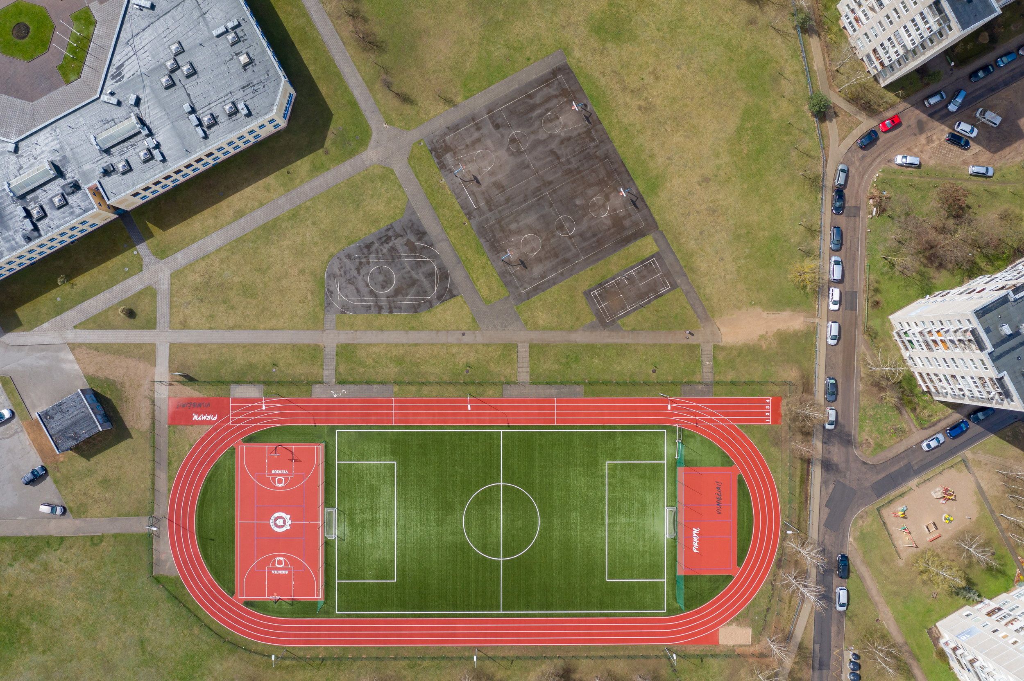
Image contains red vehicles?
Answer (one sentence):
Yes, a red vehicle can be made out from above.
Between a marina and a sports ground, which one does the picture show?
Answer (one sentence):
This looks like a sports ground.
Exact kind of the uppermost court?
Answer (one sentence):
Specifically, the uppermost court is a basketball court.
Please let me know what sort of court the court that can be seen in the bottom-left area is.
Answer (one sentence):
I'd identify the court that can be seen in the bottom-left area as a basketball court.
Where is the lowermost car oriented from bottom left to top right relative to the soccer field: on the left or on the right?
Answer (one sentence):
The lowermost car oriented from bottom left to top right is to the left of the soccer field.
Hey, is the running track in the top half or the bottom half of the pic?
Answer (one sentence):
The running track sits in the bottom half of the picture.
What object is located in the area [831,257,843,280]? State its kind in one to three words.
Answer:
vehicle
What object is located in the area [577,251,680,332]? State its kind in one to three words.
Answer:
sports court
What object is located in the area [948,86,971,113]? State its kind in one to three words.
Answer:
vehicle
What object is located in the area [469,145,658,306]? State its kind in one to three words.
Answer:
basketball court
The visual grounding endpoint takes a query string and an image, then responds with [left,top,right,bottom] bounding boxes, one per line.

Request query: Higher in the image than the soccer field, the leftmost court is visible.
[324,200,462,314]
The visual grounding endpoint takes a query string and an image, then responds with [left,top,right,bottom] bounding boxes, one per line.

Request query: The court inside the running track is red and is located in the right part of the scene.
[677,465,741,578]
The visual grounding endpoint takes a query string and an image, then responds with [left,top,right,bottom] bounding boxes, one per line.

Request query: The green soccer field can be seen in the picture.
[195,425,753,619]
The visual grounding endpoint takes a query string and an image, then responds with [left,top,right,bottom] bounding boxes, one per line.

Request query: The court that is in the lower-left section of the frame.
[232,441,324,605]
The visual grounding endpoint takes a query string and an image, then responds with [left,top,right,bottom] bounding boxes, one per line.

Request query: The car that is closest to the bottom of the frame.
[836,588,849,612]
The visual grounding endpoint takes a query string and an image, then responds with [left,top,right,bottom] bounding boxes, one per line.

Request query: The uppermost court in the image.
[423,60,613,222]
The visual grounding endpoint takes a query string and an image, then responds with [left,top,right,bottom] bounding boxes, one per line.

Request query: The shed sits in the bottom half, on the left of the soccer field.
[35,388,114,455]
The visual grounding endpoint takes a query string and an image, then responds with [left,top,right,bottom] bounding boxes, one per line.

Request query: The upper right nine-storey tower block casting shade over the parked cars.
[836,0,1024,87]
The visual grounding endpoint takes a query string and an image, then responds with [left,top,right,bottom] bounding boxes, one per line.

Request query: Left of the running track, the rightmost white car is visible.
[36,504,64,517]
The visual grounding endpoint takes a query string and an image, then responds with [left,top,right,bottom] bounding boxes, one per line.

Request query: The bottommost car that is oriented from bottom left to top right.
[19,466,46,486]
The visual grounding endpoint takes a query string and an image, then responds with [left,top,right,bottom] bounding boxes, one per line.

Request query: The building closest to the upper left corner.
[0,0,299,279]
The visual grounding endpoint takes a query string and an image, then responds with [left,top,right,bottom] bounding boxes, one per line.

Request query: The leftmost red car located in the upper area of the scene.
[879,113,905,131]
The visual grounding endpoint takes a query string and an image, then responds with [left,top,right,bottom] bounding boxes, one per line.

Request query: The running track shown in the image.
[167,397,782,647]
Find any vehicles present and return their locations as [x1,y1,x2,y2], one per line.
[833,188,845,214]
[946,130,973,149]
[831,225,844,251]
[828,322,841,345]
[969,164,996,176]
[36,504,64,517]
[831,257,843,280]
[836,588,849,612]
[977,106,1005,126]
[895,152,923,166]
[879,113,905,131]
[946,420,973,439]
[825,406,838,432]
[921,433,948,453]
[970,62,998,81]
[971,407,996,424]
[829,286,842,312]
[19,466,46,486]
[826,377,838,403]
[948,86,971,113]
[956,119,980,137]
[838,555,851,579]
[857,129,880,148]
[0,407,16,423]
[923,88,950,107]
[836,161,850,187]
